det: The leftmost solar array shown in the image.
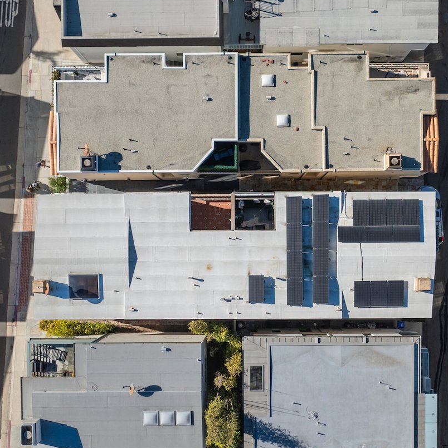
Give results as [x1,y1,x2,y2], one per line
[246,276,267,303]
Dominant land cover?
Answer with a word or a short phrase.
buildings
